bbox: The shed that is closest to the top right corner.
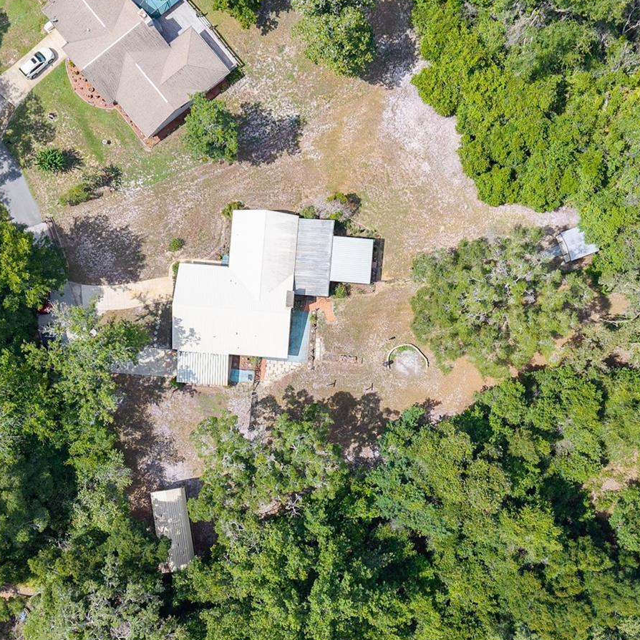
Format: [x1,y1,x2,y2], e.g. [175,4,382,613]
[553,226,596,265]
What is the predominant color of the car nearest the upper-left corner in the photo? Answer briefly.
white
